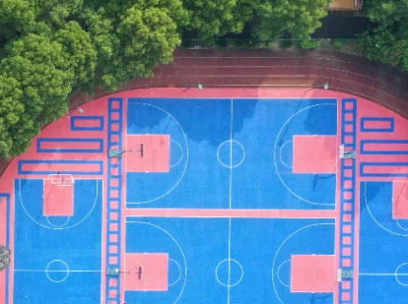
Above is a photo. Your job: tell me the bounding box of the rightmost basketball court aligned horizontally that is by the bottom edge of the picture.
[124,217,335,304]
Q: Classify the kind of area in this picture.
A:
sports ground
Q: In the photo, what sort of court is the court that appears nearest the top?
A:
basketball court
